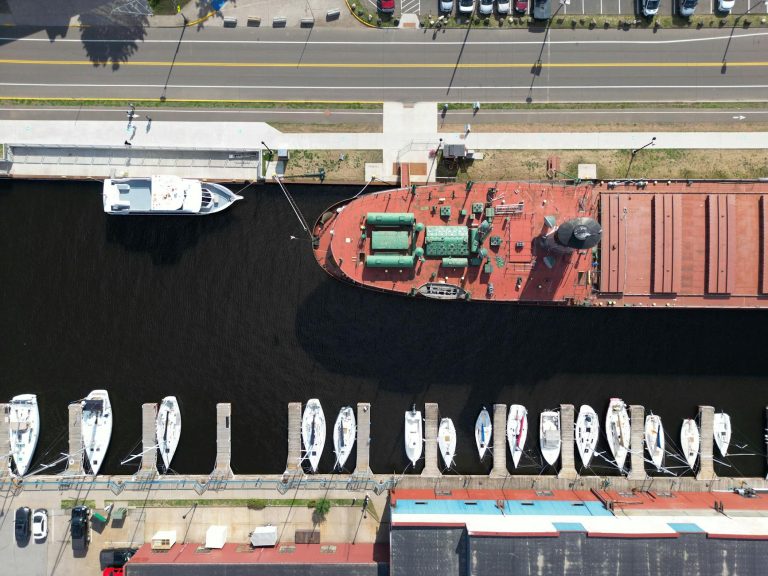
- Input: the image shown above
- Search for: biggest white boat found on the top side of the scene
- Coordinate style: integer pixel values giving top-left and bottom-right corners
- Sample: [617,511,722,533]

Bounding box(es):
[104,176,242,214]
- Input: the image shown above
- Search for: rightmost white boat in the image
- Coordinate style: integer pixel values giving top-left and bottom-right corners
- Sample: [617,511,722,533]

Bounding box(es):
[714,410,760,460]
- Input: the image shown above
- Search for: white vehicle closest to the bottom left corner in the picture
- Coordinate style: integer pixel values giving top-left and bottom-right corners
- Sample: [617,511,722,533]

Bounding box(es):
[32,507,50,538]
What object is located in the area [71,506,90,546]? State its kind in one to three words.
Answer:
vehicle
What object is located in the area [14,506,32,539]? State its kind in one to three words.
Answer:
car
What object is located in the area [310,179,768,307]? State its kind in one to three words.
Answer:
ship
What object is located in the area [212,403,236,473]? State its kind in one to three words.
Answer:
pier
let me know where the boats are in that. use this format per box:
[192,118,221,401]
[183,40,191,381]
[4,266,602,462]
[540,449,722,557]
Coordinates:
[538,410,562,466]
[332,405,357,469]
[404,407,424,471]
[678,418,723,471]
[416,284,466,298]
[128,394,184,472]
[507,404,536,469]
[104,176,242,214]
[438,416,458,469]
[714,410,760,460]
[574,404,620,474]
[302,398,328,472]
[39,388,118,478]
[474,407,494,460]
[602,396,665,473]
[0,392,45,476]
[644,412,688,471]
